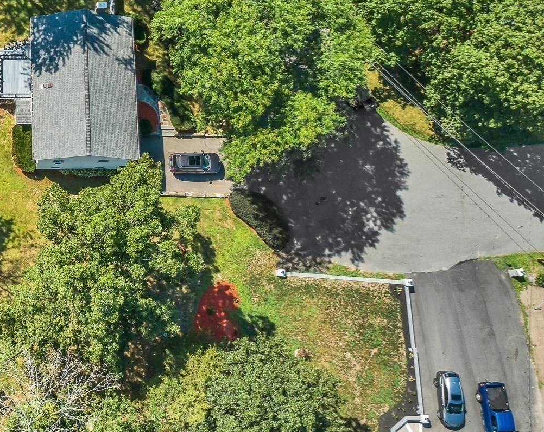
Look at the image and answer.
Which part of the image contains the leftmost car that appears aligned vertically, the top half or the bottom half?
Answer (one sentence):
The bottom half of the photo is where the leftmost car that appears aligned vertically is.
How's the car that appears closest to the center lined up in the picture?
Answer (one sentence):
The car that appears closest to the center is laid out from left to right.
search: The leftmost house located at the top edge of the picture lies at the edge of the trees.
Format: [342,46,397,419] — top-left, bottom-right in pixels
[30,0,140,167]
